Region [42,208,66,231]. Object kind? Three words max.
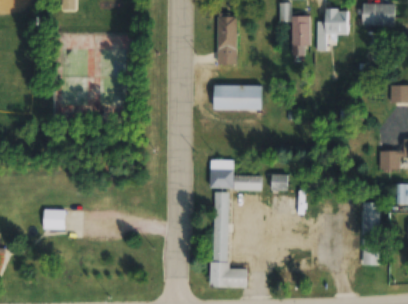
building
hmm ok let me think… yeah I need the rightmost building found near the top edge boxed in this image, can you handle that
[362,3,397,26]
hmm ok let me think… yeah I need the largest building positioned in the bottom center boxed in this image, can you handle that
[210,159,248,288]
